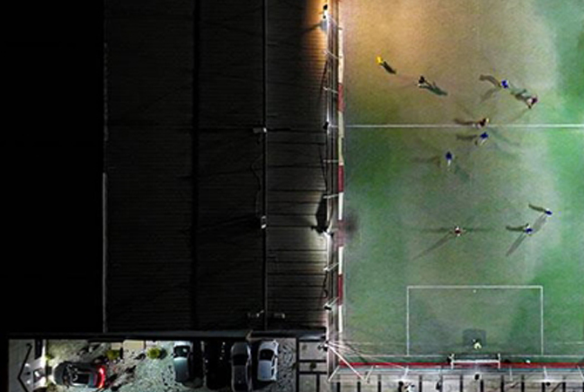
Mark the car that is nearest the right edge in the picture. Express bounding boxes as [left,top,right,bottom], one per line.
[253,341,277,385]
